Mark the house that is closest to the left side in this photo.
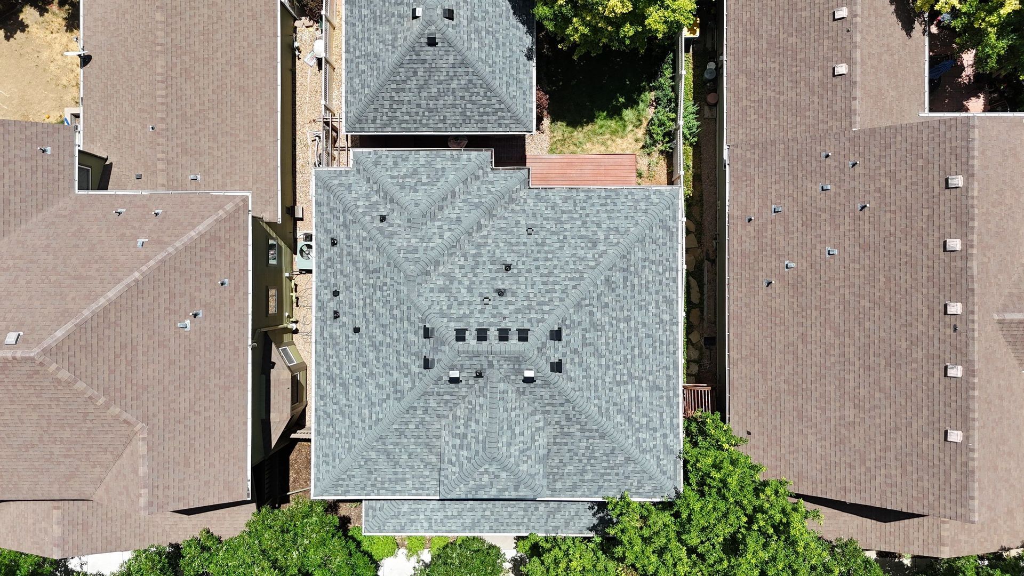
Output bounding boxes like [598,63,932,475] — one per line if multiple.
[0,0,307,558]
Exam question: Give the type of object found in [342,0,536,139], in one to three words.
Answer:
building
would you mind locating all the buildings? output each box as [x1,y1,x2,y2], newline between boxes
[311,148,685,537]
[342,0,536,139]
[712,0,1024,558]
[0,0,307,558]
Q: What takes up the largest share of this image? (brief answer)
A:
buildings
